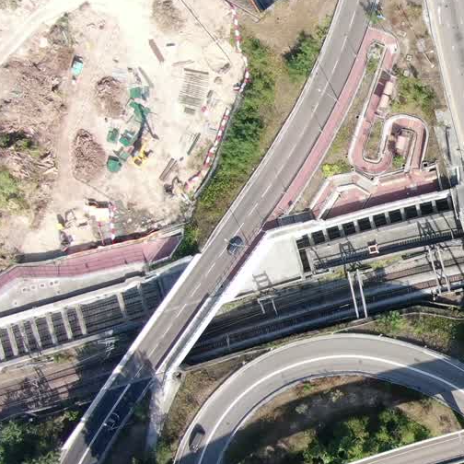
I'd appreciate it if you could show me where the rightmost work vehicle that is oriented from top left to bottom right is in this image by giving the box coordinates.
[153,170,184,196]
